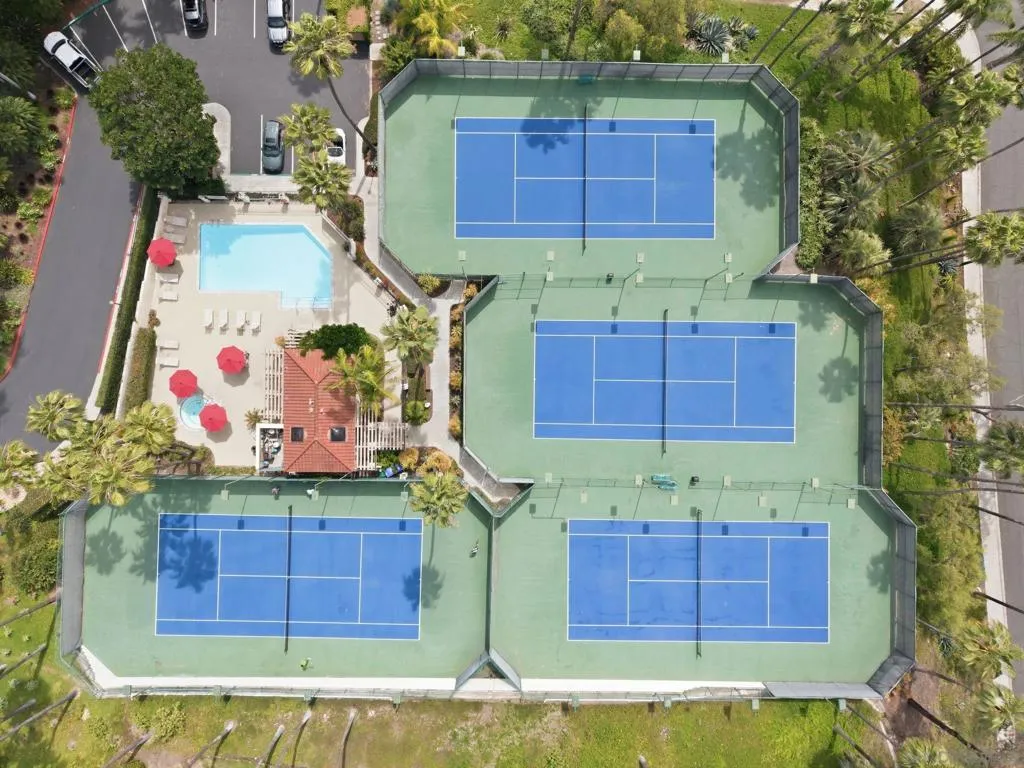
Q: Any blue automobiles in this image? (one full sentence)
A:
No, no blue automobile is visible in the scene.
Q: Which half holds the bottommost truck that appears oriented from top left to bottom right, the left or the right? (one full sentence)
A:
The bottommost truck that appears oriented from top left to bottom right is on the left side of the image.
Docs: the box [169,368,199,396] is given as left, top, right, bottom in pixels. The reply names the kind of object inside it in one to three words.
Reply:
umbrella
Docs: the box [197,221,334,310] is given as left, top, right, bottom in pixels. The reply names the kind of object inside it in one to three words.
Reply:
swimming pool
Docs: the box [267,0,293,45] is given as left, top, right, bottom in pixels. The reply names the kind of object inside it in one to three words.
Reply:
car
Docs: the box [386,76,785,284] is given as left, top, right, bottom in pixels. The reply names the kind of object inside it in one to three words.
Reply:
tennis court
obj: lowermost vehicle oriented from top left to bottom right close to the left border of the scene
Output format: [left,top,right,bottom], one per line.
[46,35,99,93]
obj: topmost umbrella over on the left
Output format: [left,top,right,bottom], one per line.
[148,238,179,267]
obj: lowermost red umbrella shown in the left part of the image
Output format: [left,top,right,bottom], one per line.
[199,403,228,432]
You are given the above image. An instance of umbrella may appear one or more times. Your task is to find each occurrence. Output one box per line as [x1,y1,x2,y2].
[217,345,246,374]
[169,368,199,396]
[199,403,228,432]
[148,238,179,267]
